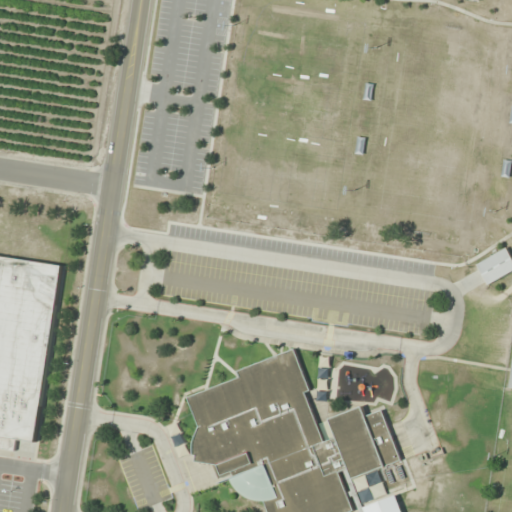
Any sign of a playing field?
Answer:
Yes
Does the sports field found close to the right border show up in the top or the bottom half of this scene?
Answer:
top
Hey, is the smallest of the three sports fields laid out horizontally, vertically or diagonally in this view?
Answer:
horizontally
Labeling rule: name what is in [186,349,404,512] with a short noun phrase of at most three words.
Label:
building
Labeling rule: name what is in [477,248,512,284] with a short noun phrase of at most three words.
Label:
building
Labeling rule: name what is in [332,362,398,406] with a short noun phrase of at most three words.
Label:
playground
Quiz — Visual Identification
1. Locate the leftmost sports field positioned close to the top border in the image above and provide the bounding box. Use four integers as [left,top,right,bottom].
[248,18,352,126]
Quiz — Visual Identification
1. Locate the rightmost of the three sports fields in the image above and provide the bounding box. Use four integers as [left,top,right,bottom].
[382,34,488,202]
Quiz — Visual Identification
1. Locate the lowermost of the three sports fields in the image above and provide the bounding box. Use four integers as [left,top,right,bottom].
[236,150,350,214]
